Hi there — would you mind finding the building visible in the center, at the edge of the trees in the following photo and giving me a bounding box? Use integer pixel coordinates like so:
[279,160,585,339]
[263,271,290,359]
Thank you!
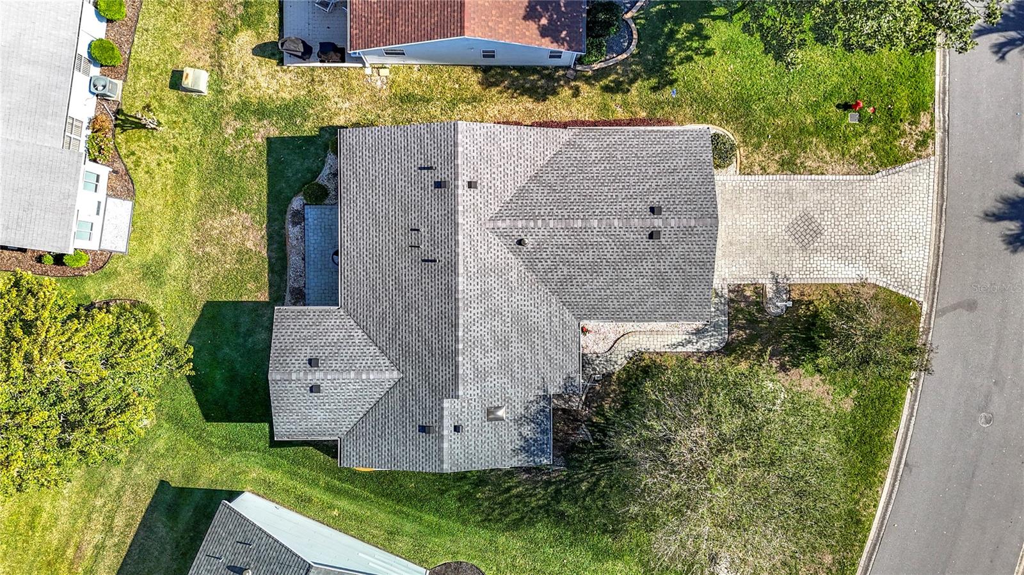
[267,120,719,476]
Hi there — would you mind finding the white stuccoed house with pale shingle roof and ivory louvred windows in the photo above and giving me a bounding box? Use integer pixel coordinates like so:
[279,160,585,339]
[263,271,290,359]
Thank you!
[0,0,113,256]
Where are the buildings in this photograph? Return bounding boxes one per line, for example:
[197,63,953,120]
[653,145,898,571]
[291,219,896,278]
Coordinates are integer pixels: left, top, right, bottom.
[0,0,113,256]
[346,0,588,74]
[267,120,719,476]
[192,492,430,575]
